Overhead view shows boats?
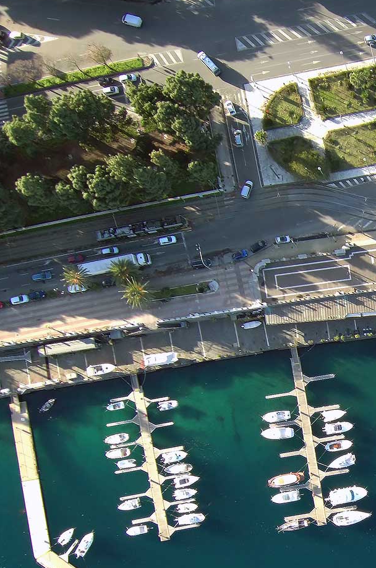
Yes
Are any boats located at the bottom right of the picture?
Yes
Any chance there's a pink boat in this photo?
No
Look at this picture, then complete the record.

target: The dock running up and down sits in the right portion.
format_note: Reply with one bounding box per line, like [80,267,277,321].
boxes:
[265,348,357,525]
